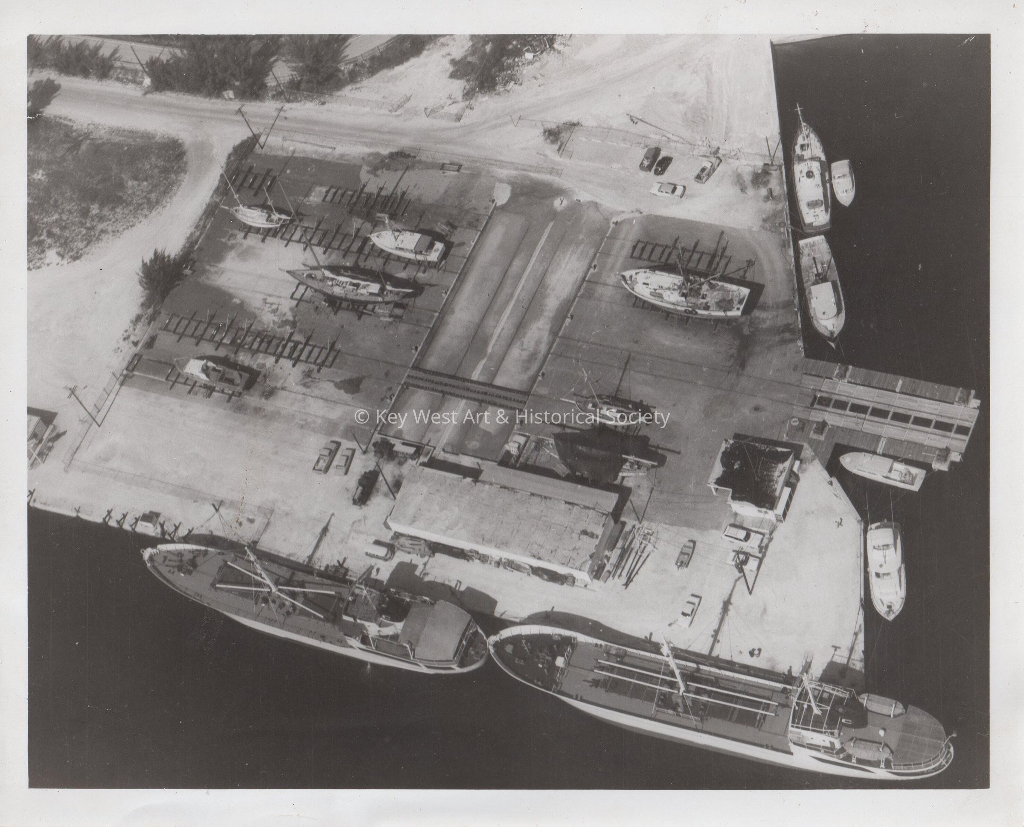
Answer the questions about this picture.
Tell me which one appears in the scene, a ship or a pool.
ship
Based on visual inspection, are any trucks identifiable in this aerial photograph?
Yes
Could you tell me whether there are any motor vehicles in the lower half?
Yes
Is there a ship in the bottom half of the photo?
Yes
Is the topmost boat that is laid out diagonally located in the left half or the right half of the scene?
left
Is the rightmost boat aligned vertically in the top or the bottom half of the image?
bottom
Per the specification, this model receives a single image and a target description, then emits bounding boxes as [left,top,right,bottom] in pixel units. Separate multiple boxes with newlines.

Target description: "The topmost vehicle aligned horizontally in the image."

[647,186,689,203]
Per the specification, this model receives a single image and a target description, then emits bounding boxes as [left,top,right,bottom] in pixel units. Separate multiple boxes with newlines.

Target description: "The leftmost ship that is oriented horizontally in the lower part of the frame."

[136,542,490,670]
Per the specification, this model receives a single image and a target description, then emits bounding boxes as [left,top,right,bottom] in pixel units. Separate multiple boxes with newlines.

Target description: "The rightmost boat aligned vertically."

[862,492,909,627]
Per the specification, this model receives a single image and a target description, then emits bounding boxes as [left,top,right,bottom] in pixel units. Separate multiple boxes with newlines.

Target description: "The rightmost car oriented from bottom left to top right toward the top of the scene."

[692,155,724,186]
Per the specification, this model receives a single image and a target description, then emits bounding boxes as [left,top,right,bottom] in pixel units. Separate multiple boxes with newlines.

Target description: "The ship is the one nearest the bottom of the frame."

[487,627,958,777]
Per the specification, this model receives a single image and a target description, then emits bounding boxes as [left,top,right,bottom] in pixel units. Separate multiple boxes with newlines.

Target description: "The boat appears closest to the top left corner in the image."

[214,160,290,229]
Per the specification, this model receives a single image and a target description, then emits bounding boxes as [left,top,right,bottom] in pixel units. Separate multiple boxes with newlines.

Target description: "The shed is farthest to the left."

[0,404,48,450]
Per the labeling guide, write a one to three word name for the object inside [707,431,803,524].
building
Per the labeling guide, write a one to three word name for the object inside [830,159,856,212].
boat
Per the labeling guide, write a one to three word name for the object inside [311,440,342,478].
truck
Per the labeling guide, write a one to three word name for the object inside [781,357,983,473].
pier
